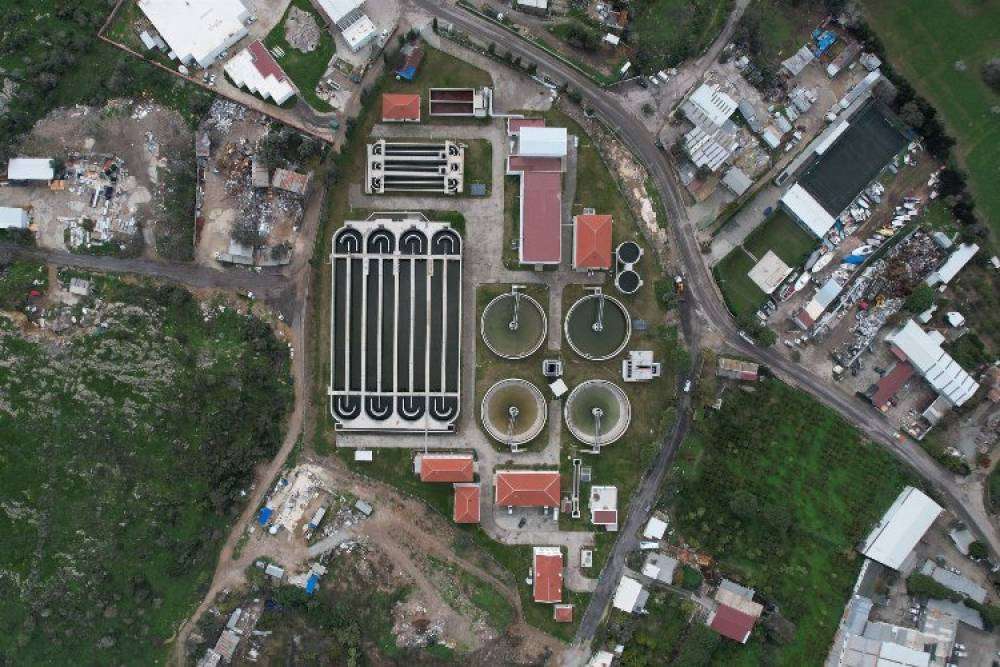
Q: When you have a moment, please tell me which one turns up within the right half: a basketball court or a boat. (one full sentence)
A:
You can see a boat within the right half.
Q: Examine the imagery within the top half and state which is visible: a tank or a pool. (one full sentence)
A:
It is a tank that can be seen within the top half.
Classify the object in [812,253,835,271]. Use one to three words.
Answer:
boat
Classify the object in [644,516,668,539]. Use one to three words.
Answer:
shed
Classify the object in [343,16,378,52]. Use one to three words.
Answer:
house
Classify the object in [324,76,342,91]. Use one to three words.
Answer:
vehicle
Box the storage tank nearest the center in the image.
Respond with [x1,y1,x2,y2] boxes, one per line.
[480,286,548,359]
